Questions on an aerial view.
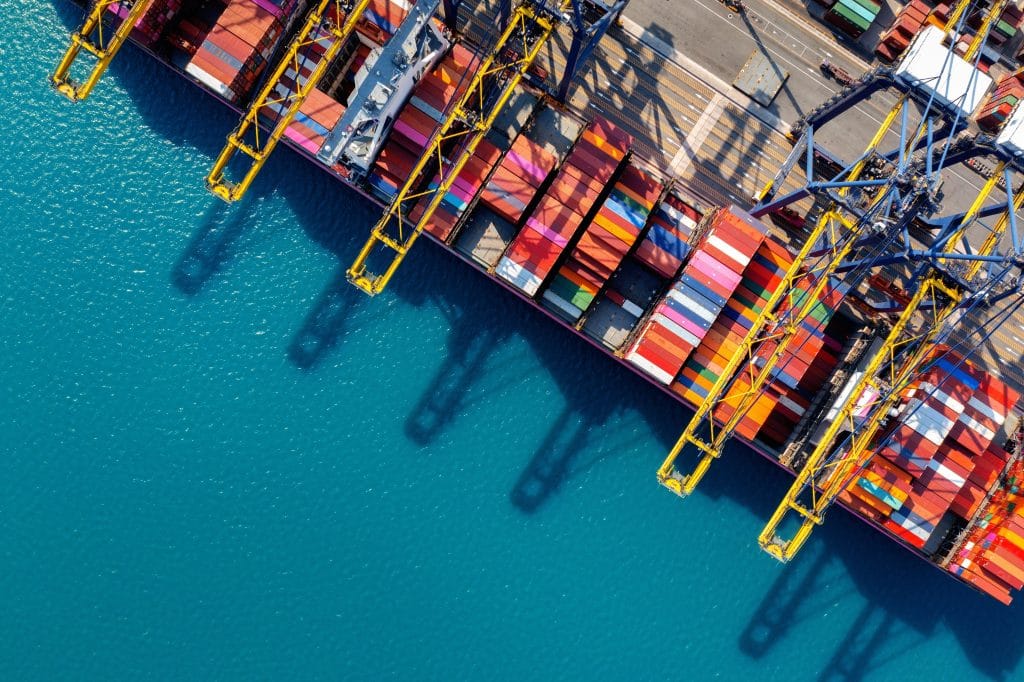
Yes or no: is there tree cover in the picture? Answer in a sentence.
No, there is no tree cover in the image.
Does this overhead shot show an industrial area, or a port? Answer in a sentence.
This looks like a port.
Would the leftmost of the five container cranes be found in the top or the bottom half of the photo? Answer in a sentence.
The leftmost of the five container cranes sits in the top half of the picture.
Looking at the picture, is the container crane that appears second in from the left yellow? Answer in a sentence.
Yes, the container crane that appears second in from the left appears yellow.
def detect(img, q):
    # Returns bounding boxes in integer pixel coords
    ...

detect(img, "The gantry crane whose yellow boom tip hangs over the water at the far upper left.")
[49,0,148,98]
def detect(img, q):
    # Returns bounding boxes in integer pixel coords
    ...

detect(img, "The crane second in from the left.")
[204,0,368,198]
